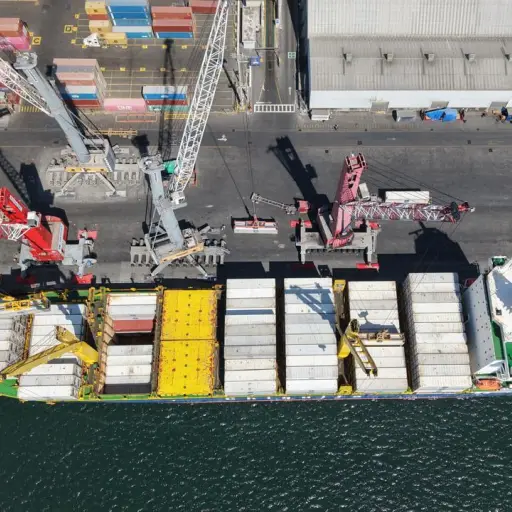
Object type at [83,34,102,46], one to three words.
vehicle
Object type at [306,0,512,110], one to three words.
building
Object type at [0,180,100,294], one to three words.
crane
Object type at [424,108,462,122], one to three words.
vehicle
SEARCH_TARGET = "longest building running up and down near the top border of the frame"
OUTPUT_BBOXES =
[240,0,262,54]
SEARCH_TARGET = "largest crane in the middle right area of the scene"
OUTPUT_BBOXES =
[296,151,476,336]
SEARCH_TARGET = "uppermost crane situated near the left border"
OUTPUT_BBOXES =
[0,40,128,196]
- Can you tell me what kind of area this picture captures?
port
